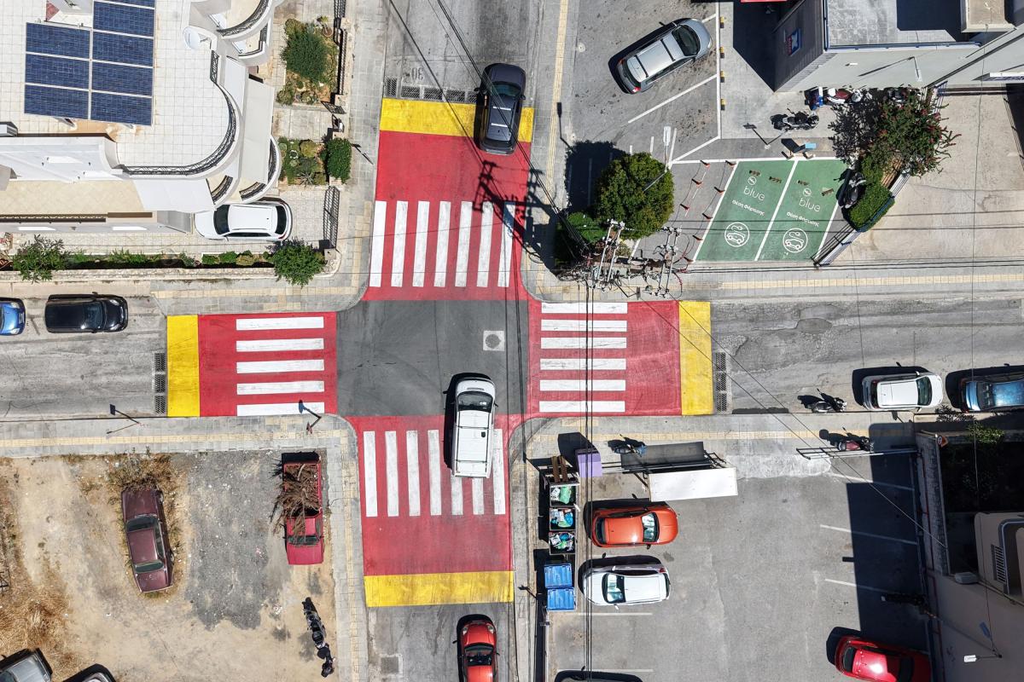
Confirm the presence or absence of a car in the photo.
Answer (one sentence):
Yes, the image includes a car.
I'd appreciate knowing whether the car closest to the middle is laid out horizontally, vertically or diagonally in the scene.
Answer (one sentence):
What the image shows is the car closest to the middle lying vertically.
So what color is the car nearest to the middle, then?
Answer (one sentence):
The color of the car nearest to the middle is white.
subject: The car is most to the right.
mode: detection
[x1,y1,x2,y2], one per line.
[955,373,1024,412]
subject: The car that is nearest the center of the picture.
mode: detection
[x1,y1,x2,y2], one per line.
[449,376,500,479]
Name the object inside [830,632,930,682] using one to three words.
car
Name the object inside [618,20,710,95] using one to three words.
car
